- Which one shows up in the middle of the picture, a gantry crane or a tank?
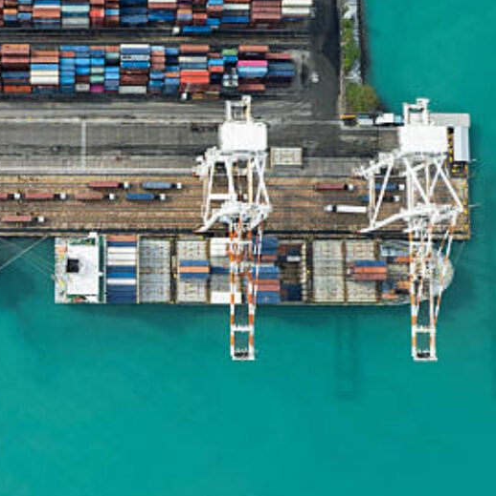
gantry crane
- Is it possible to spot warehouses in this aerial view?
No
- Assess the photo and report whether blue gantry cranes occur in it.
No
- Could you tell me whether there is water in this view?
Yes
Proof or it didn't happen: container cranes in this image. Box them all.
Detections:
[349,99,469,362]
[191,98,273,361]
